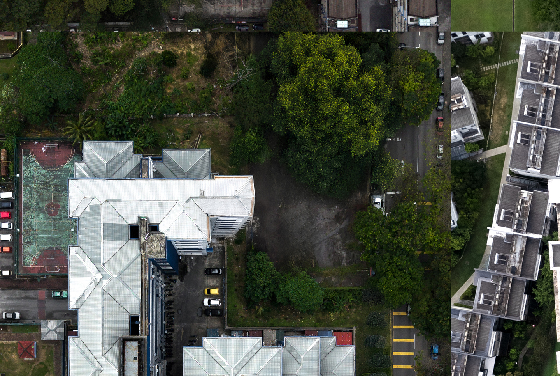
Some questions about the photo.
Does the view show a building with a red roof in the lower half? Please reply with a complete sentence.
Yes, looking in the lower half, one can make out a building with a red roof.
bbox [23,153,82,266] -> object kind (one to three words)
sports court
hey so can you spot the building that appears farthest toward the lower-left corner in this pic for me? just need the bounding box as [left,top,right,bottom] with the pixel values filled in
[17,338,39,359]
